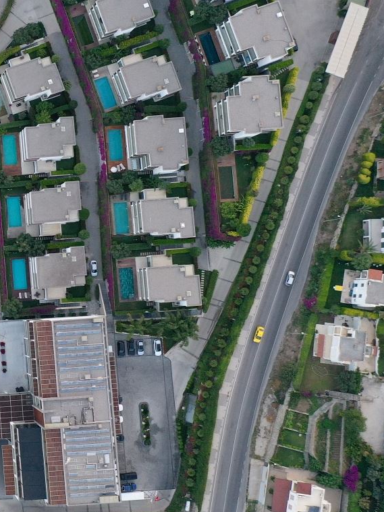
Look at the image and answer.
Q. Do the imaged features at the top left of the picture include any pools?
Yes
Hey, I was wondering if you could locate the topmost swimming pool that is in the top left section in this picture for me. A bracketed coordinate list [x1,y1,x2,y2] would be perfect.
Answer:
[71,12,96,47]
